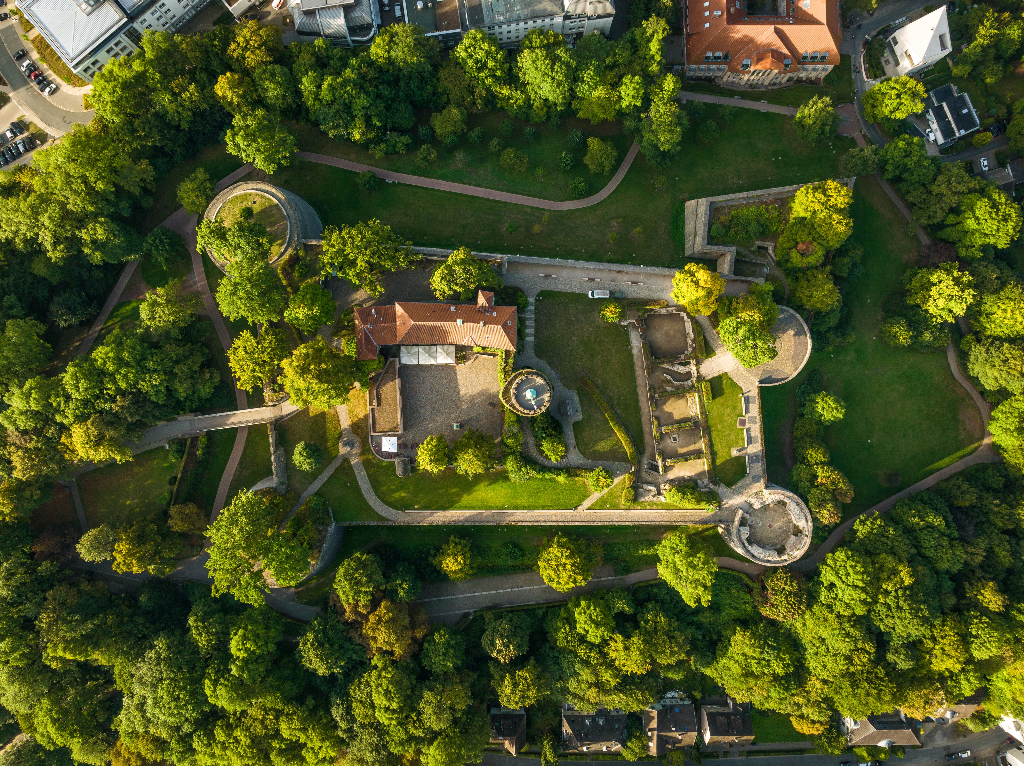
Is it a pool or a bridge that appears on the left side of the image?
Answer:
bridge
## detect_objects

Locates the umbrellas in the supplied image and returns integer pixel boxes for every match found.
[400,345,418,364]
[382,437,397,452]
[437,345,455,364]
[419,345,437,364]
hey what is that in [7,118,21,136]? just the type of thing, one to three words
car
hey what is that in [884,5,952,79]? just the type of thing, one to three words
house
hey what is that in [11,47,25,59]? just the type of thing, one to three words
vehicle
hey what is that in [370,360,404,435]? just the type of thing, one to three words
building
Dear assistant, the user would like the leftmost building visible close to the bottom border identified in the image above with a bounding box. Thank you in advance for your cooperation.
[490,705,526,755]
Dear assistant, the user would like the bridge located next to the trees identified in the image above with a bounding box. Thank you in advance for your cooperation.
[175,402,283,439]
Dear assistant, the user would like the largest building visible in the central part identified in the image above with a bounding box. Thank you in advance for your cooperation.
[354,291,517,361]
